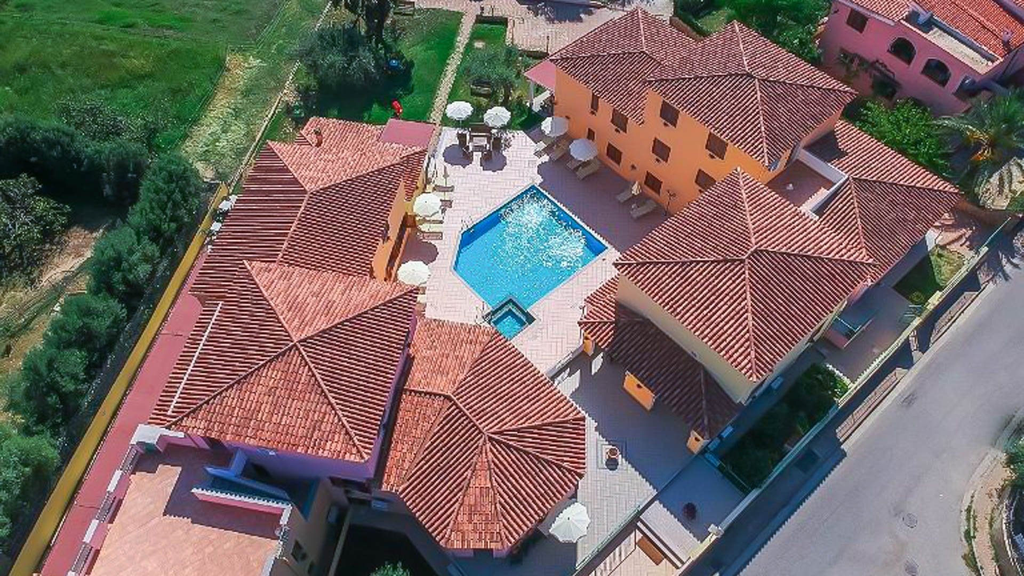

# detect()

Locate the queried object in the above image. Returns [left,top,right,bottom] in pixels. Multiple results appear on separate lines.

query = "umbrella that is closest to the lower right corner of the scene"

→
[553,504,594,548]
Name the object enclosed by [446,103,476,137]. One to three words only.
umbrella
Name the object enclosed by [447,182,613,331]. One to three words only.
swimming pool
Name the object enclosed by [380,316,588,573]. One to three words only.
building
